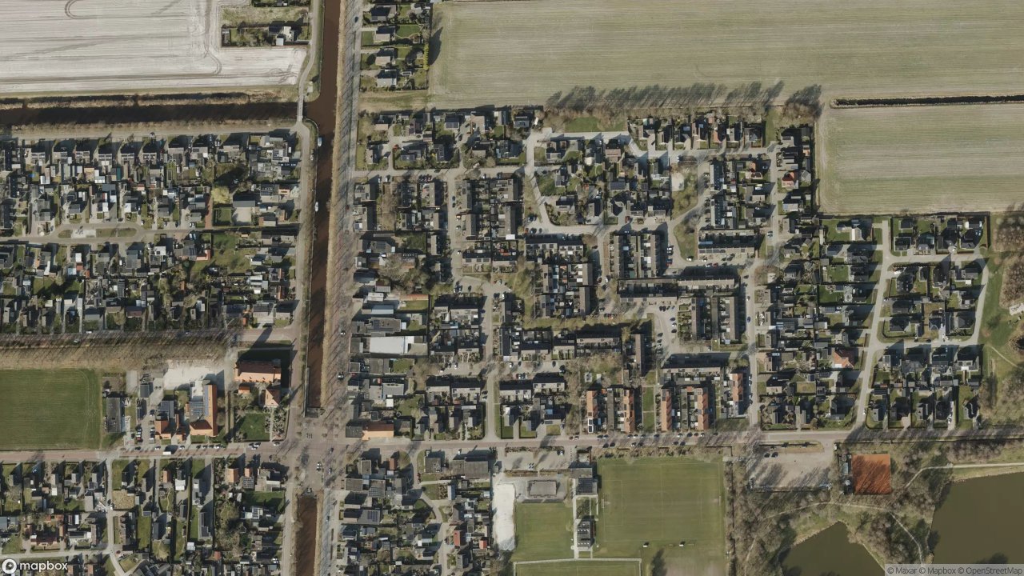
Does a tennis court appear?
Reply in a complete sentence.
Yes, the image includes a tennis court.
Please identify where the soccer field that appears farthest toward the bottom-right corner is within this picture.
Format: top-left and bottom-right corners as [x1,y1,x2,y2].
[593,456,726,576]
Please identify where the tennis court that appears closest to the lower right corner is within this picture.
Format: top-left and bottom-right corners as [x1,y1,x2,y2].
[852,453,892,495]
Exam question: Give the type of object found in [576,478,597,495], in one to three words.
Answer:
building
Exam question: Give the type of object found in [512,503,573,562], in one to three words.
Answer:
sports field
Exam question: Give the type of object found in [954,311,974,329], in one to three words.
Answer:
house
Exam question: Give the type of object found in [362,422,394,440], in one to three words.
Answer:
building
